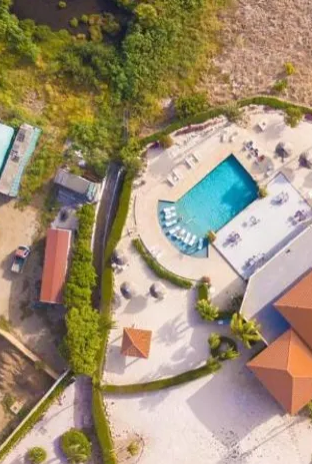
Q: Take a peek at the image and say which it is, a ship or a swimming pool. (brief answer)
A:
swimming pool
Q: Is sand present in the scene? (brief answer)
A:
Yes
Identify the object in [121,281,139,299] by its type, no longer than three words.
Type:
umbrella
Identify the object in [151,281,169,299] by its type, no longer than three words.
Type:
umbrella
